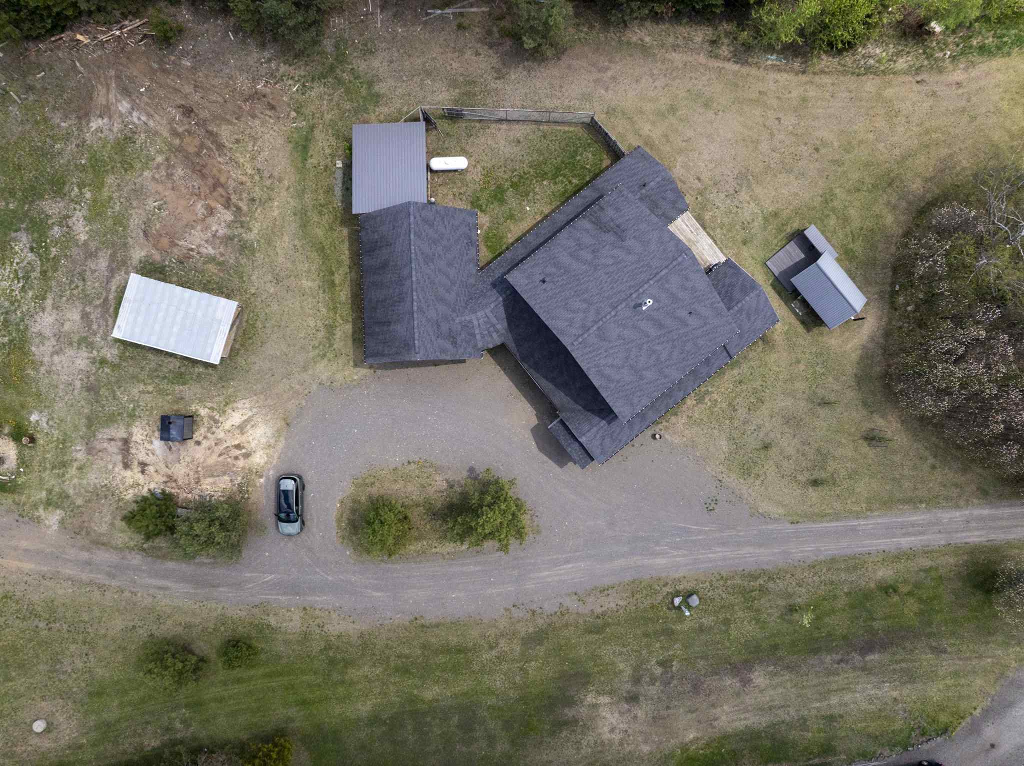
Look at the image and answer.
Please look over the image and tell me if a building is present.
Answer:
Yes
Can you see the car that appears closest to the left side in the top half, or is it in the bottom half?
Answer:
bottom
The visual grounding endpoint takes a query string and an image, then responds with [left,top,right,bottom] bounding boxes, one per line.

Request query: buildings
[789,225,867,330]
[160,415,195,441]
[358,144,781,469]
[112,274,248,364]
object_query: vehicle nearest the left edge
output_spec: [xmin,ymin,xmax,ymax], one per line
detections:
[274,473,306,536]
